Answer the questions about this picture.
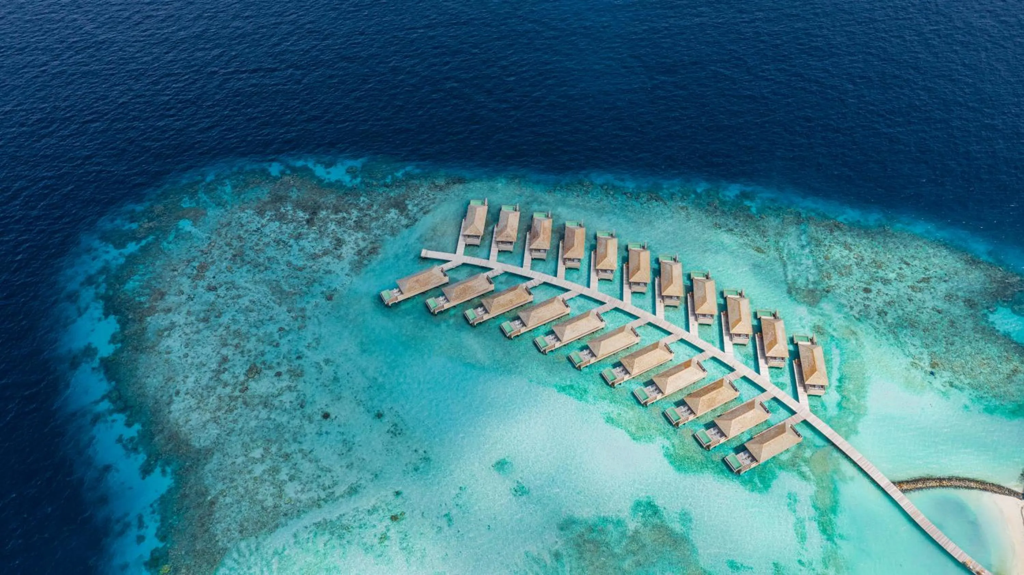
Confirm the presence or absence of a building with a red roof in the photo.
No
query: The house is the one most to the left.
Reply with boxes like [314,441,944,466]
[380,265,450,312]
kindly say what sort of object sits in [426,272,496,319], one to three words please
house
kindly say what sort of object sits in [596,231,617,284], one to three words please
house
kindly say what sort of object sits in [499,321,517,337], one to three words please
swimming pool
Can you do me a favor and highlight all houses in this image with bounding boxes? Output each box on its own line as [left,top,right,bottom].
[609,341,676,389]
[690,272,717,325]
[496,207,519,257]
[641,359,708,409]
[507,296,572,342]
[463,203,487,251]
[464,284,535,330]
[530,216,552,264]
[704,399,772,452]
[564,221,585,272]
[576,324,641,372]
[542,309,607,355]
[723,291,752,347]
[734,422,803,477]
[380,265,450,312]
[627,247,650,297]
[792,336,828,397]
[596,231,617,284]
[426,272,496,319]
[661,255,683,309]
[673,378,741,429]
[757,310,788,369]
